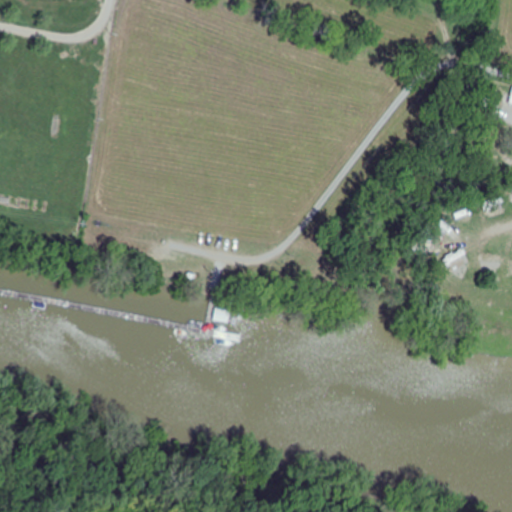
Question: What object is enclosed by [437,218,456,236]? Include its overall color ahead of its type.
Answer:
white vehicle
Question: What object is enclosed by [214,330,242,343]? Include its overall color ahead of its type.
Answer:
white ship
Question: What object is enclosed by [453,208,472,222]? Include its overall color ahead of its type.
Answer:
white vehicle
